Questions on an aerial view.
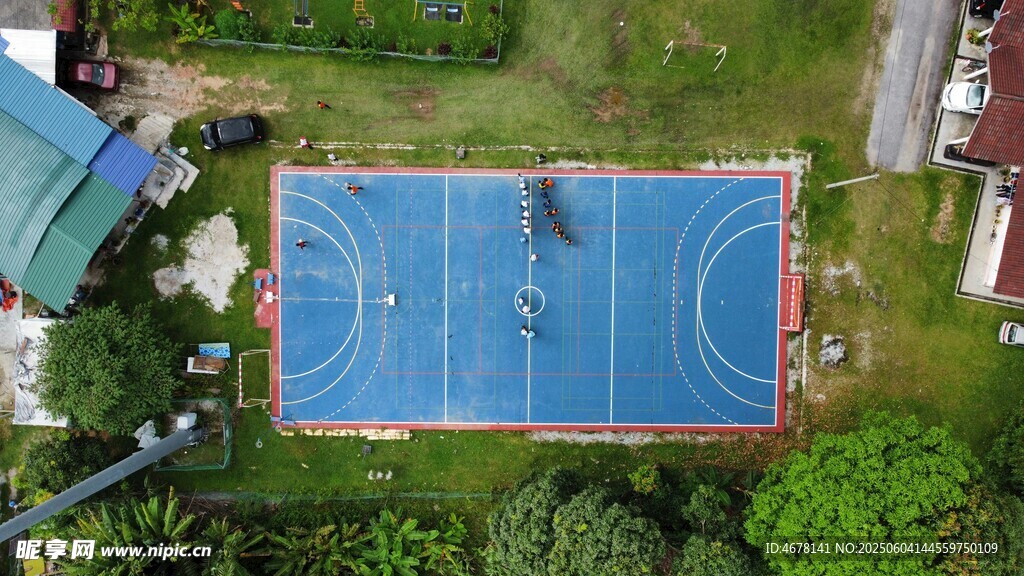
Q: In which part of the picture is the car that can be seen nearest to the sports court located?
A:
top left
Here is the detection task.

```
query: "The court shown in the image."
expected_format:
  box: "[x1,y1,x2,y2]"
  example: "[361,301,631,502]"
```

[255,166,805,432]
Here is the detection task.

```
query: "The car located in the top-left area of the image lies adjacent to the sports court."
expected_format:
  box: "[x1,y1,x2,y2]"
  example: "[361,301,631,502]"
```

[197,114,267,152]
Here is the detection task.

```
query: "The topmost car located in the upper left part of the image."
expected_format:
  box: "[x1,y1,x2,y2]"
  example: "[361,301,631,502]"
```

[58,56,124,92]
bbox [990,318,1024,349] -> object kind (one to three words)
car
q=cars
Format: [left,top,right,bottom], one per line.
[971,0,1004,26]
[939,79,991,115]
[197,114,267,152]
[990,318,1024,349]
[939,135,1006,178]
[58,56,124,92]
